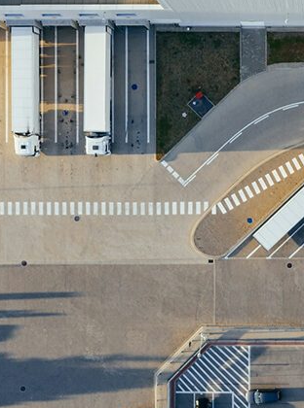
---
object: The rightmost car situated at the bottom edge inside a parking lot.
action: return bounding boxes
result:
[252,387,281,405]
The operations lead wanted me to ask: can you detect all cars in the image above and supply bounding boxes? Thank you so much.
[252,387,281,405]
[196,396,214,408]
